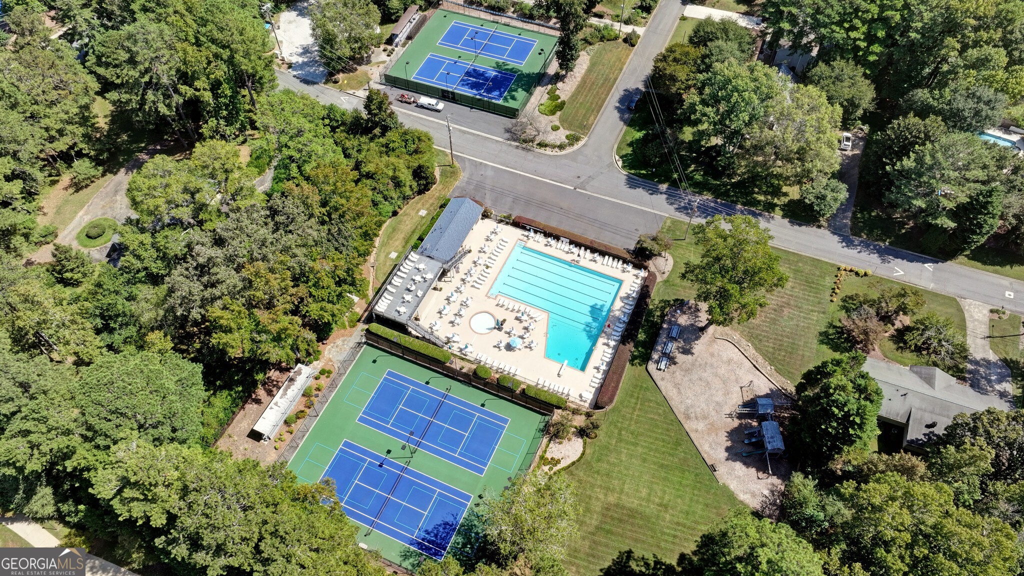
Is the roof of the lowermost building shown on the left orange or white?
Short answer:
white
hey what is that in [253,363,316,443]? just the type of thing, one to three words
building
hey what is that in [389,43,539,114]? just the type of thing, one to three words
tennis court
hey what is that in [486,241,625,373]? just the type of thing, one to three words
swimming pool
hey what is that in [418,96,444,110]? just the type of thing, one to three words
vehicle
